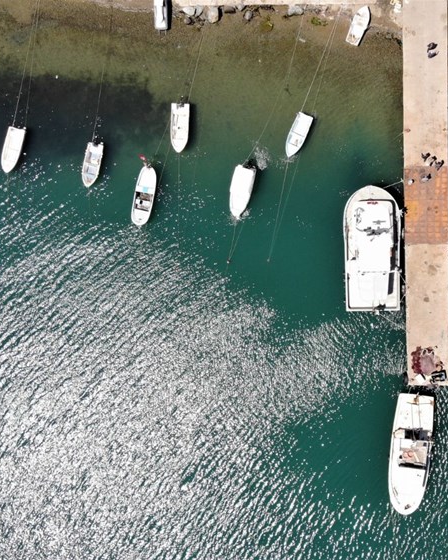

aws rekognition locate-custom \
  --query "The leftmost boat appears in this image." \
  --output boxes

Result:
[1,126,25,173]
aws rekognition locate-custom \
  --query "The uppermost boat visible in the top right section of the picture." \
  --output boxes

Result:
[346,5,370,47]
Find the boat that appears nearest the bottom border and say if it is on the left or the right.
right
